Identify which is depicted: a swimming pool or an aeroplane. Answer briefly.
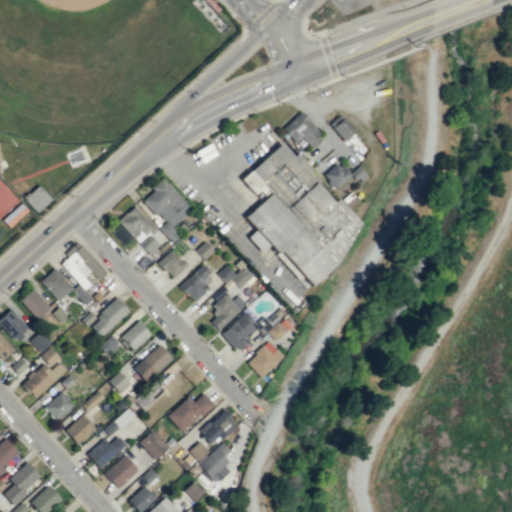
swimming pool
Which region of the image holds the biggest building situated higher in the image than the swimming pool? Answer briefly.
center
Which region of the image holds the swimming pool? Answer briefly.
center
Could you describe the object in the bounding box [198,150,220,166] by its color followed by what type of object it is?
white vehicle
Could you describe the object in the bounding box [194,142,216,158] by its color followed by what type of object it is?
white vehicle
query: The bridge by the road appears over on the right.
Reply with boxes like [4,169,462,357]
[434,0,496,38]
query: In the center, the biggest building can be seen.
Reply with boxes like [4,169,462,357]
[244,146,364,288]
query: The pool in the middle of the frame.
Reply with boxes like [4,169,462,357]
[245,292,280,320]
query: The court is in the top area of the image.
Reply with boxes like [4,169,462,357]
[0,180,20,220]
